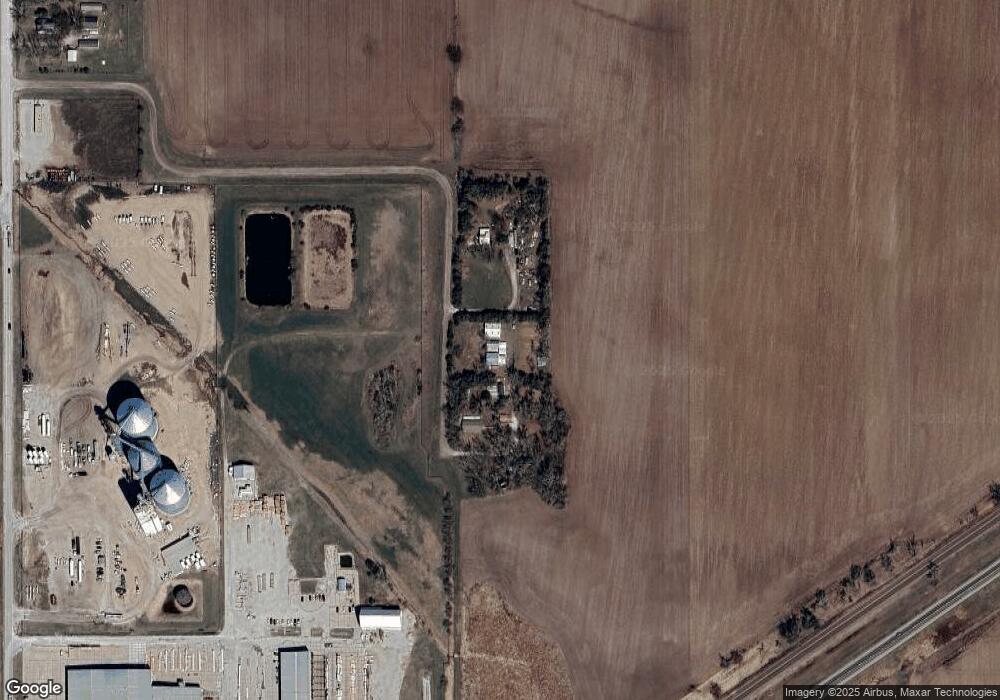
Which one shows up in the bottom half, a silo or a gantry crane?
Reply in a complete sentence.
There is a silo in the bottom half.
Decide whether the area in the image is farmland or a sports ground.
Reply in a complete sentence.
It's farmland.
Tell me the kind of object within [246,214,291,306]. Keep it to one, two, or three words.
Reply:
pond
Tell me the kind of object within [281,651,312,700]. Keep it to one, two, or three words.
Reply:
shed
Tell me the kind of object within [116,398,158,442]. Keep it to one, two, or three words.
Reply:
silo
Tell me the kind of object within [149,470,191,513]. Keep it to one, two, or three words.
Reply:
silo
